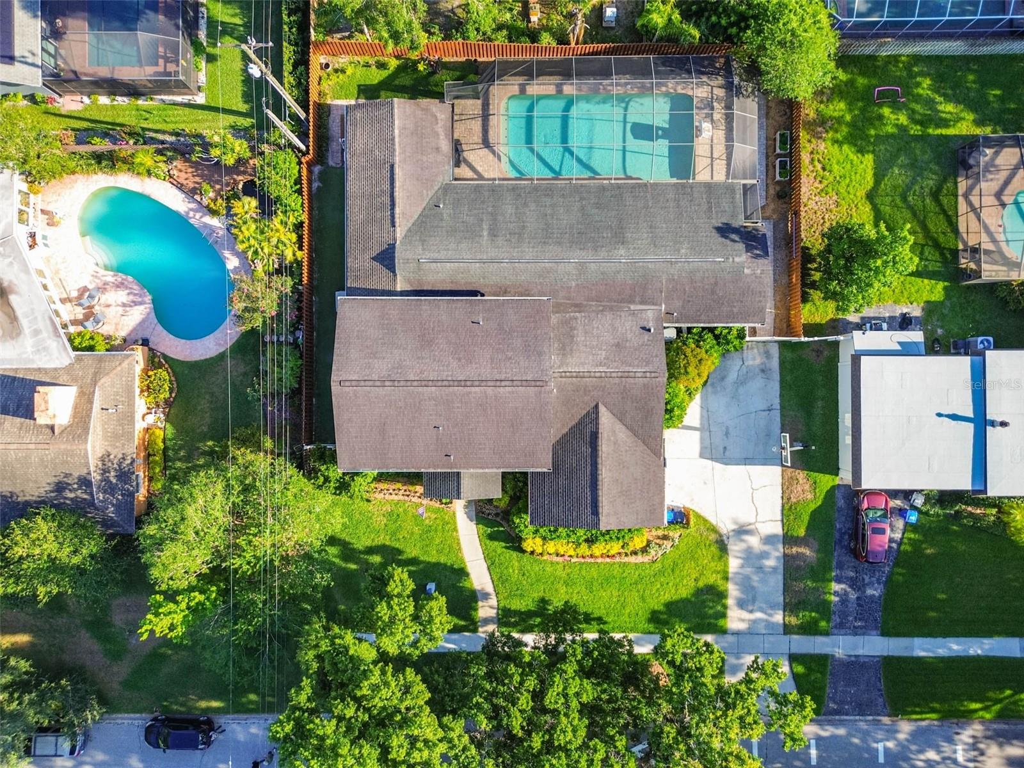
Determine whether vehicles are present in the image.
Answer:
Yes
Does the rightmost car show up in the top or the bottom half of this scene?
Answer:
bottom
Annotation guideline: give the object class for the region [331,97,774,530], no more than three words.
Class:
house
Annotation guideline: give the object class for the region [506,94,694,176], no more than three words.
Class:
swimming pool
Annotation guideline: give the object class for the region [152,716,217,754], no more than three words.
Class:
car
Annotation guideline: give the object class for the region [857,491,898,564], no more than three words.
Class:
car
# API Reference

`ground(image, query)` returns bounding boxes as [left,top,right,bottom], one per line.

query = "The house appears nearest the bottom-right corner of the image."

[838,331,1024,496]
